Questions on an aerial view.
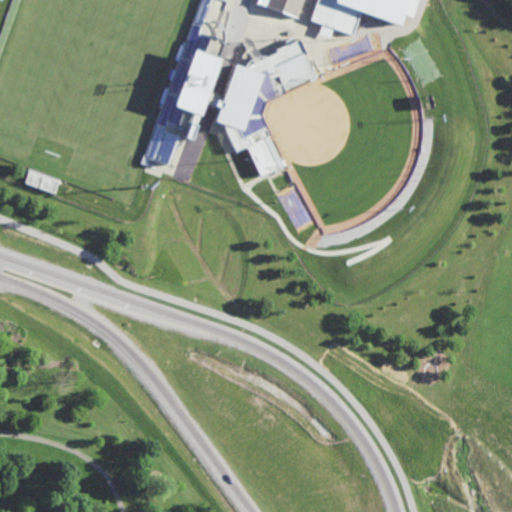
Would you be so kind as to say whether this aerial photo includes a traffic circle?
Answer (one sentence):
No, I can't see a single traffic circle in this photo.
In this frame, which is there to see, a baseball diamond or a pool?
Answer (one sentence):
It is a baseball diamond that can be seen here.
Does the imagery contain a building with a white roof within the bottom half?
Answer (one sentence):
No, the scene shows no building with a white roof within the bottom half.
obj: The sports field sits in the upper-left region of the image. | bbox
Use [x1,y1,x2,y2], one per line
[0,0,191,205]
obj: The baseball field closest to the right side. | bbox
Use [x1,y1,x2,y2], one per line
[263,47,422,247]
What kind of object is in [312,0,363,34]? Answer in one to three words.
building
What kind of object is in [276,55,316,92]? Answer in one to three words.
building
